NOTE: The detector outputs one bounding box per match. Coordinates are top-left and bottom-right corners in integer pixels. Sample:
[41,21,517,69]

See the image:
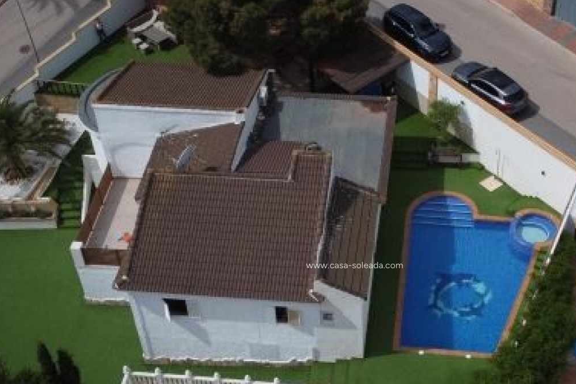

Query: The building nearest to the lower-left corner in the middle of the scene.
[66,63,395,356]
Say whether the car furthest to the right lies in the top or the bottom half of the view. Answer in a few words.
top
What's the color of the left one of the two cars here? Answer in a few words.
black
